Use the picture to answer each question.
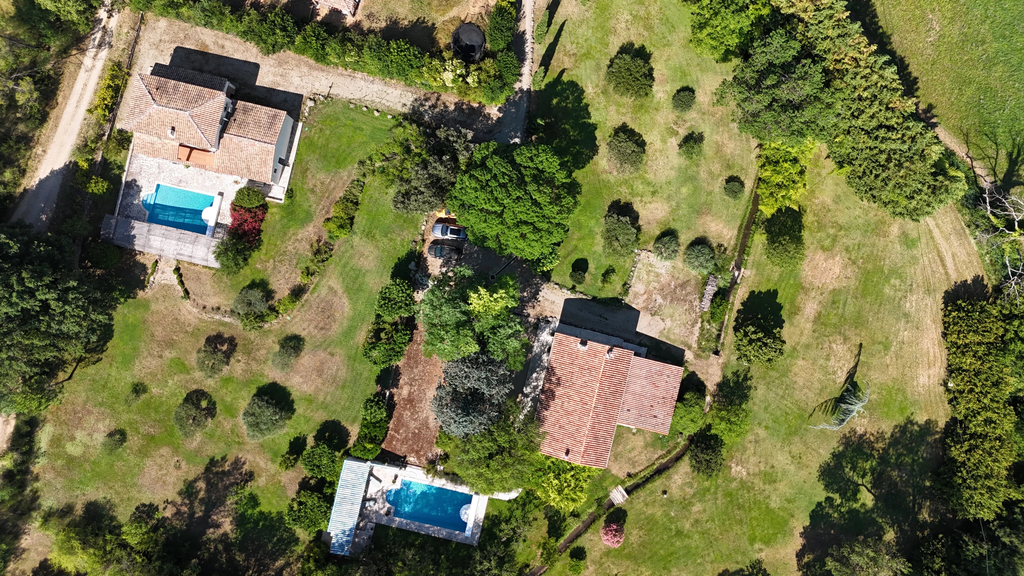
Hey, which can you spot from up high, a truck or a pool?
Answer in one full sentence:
The one in the frame is a pool.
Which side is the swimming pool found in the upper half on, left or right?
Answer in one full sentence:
The swimming pool found in the upper half sits on the left side.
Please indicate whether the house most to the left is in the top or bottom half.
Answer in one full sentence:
The top half of the photo is where the house most to the left is.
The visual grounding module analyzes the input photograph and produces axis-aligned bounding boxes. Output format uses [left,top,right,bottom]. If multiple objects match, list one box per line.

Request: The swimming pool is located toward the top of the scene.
[138,181,222,237]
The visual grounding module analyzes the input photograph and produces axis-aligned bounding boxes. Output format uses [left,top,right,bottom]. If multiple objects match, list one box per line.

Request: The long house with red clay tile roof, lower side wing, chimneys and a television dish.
[534,332,684,469]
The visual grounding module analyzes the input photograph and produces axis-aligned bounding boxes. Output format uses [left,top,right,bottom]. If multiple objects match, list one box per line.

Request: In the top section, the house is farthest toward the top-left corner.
[125,62,292,184]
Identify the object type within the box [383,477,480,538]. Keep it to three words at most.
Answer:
swimming pool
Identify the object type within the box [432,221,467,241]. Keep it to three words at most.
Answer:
car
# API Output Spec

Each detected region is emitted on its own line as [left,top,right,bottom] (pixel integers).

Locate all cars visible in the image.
[427,243,464,262]
[440,205,461,220]
[432,221,467,241]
